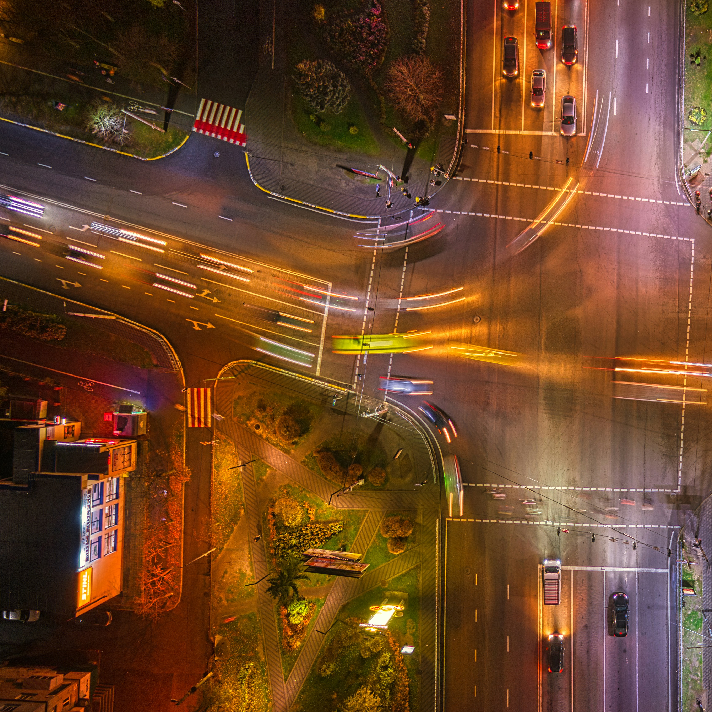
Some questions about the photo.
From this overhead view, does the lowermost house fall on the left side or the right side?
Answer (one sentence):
The lowermost house appears in the left half of the scene.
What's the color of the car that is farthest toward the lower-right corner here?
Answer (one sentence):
The color of the car that is farthest toward the lower-right corner is black.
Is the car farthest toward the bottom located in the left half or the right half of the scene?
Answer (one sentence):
The car farthest toward the bottom appears in the right half of the scene.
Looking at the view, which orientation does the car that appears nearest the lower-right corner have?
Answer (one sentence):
The car that appears nearest the lower-right corner is oriented up and down.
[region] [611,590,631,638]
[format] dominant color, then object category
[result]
black car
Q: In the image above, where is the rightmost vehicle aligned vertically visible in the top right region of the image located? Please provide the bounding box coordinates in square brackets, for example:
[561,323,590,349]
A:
[586,106,610,153]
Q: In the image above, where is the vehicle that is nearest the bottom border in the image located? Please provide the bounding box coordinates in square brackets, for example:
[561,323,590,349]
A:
[546,631,566,673]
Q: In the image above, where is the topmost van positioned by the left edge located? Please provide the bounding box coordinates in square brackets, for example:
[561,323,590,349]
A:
[0,192,51,221]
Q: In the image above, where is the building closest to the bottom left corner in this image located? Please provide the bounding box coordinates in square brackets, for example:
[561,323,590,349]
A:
[0,663,85,712]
